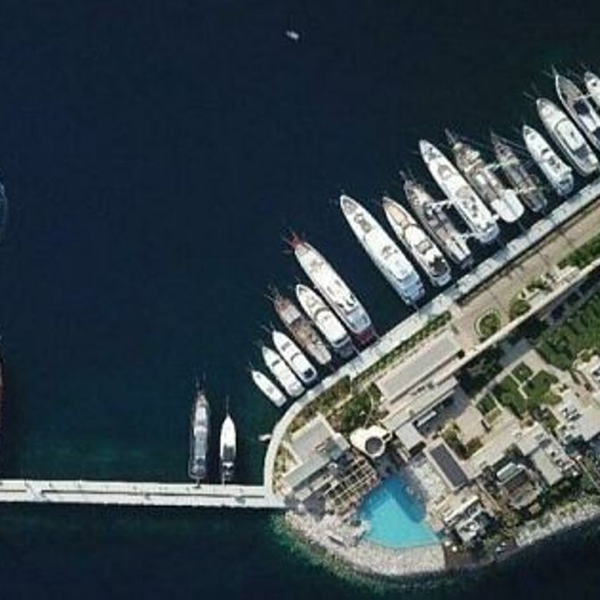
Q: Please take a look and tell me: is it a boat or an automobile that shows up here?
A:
boat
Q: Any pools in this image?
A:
Yes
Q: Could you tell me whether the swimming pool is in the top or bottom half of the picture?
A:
bottom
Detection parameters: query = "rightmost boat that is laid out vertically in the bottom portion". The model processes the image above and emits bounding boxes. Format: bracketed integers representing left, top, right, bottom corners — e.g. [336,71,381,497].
[219,405,238,487]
